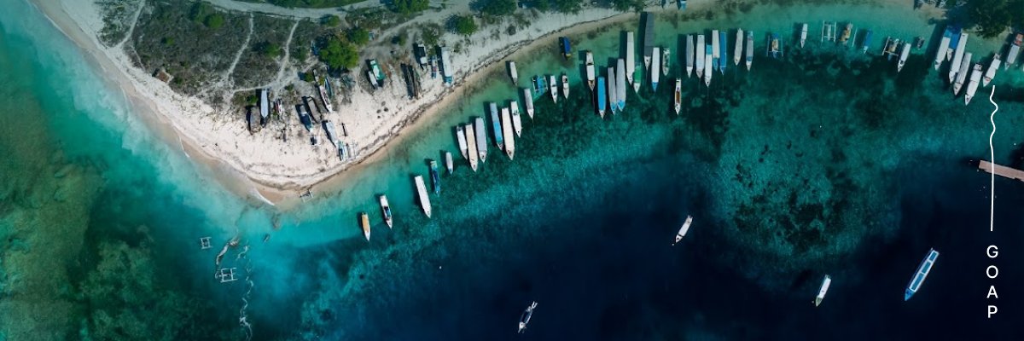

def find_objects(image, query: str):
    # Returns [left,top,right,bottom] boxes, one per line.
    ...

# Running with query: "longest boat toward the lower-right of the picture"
[904,249,938,301]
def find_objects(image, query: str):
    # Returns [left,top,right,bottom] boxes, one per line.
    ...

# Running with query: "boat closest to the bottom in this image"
[518,301,537,335]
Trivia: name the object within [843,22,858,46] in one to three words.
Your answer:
boat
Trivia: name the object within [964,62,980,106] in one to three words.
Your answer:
boat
